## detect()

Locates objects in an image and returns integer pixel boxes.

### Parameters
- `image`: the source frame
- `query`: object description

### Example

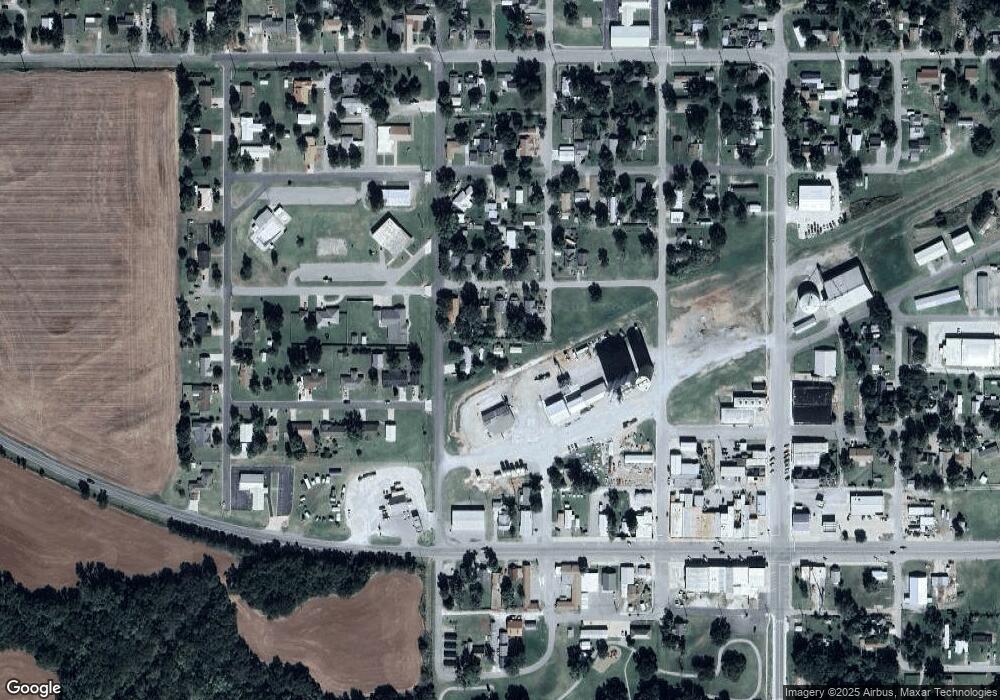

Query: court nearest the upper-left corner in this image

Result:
[317,238,347,256]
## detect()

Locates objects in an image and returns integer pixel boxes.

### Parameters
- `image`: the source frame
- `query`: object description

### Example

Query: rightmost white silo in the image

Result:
[799,291,819,313]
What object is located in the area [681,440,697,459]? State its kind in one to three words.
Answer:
house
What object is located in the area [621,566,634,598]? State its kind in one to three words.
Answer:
house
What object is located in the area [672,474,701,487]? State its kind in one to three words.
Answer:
building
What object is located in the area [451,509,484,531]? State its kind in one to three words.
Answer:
building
